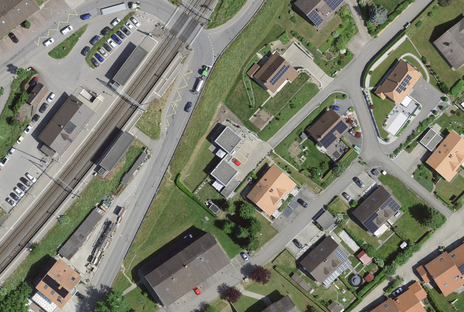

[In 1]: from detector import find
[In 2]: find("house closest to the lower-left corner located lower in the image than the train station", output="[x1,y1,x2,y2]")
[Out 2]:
[32,260,82,312]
